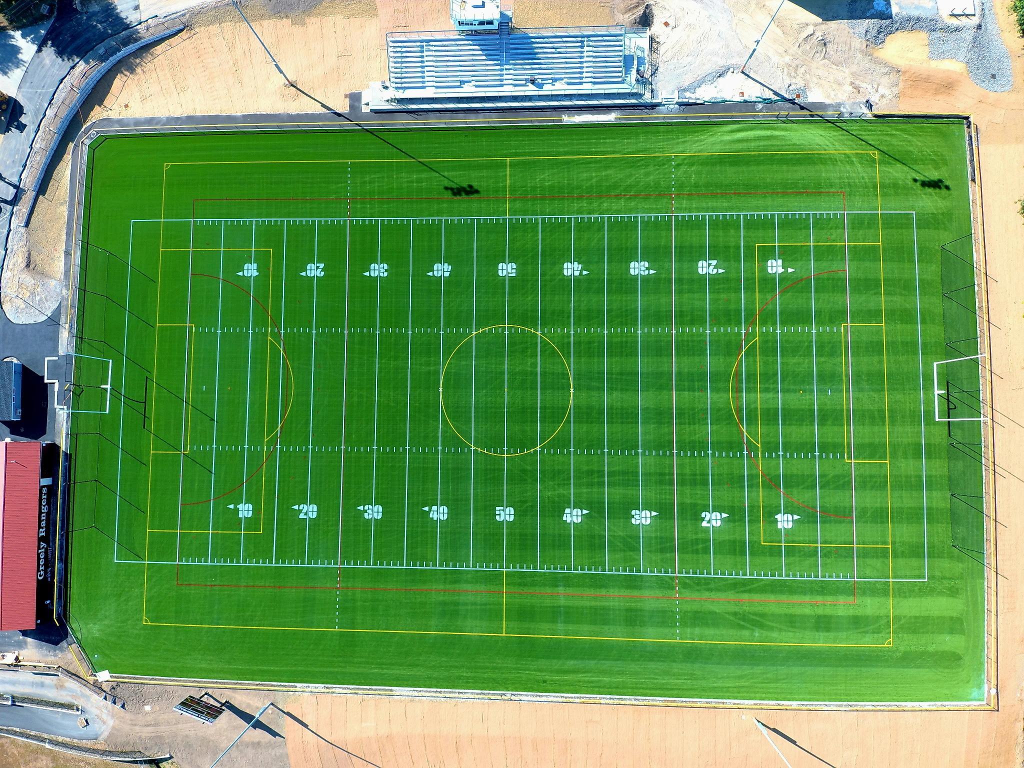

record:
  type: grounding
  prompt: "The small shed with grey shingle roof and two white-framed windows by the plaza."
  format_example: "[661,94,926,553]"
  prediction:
[0,360,29,422]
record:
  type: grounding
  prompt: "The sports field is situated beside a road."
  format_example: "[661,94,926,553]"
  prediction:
[62,119,986,703]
